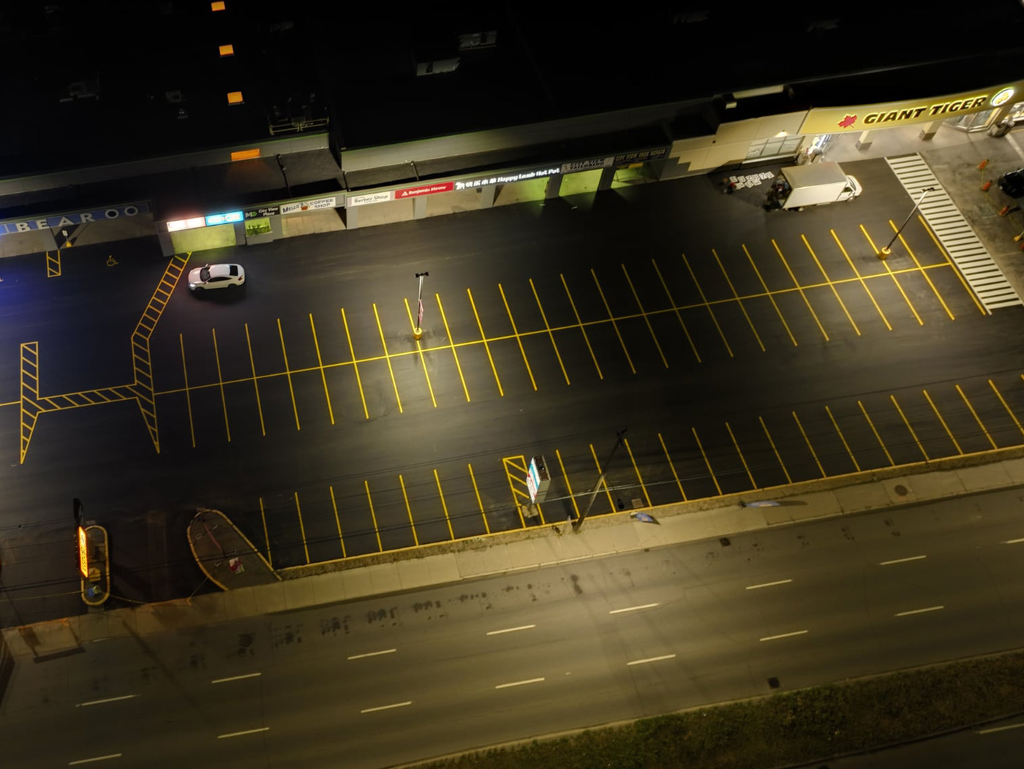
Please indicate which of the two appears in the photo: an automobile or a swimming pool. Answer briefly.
automobile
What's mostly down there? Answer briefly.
paved ground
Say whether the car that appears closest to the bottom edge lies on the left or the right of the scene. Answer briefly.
left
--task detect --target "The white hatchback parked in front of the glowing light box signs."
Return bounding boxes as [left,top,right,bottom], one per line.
[187,264,244,293]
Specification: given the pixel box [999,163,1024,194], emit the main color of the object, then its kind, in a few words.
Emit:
black car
